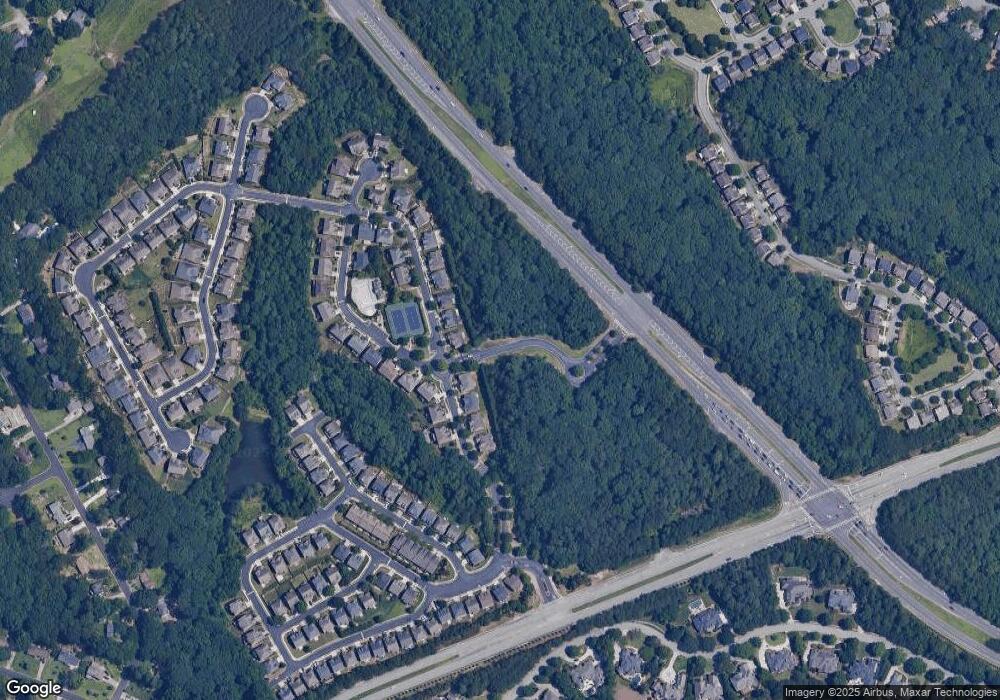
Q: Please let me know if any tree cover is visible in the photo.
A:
Yes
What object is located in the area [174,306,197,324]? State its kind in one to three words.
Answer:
house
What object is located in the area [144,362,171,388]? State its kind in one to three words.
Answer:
house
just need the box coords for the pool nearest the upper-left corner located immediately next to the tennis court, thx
[352,276,381,316]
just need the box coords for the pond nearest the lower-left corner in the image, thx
[227,420,282,498]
